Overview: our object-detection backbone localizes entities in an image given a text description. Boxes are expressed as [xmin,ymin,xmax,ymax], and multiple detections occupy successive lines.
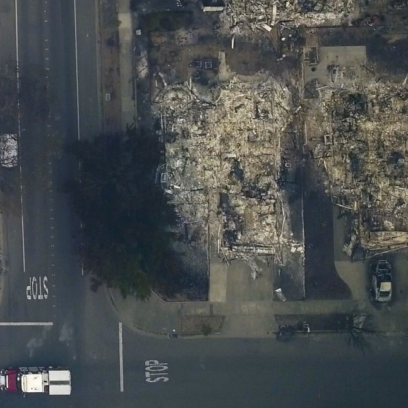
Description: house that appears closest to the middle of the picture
[162,76,300,255]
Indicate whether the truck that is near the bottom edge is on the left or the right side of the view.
left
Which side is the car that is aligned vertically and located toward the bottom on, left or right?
right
